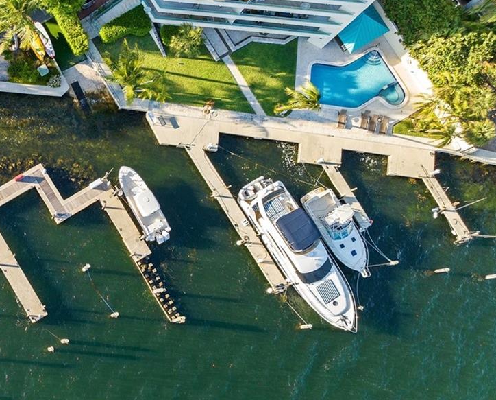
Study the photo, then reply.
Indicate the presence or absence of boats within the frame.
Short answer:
Yes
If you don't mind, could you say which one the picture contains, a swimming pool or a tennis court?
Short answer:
swimming pool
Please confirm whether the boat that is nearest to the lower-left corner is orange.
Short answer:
No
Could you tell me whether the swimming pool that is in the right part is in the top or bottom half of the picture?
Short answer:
top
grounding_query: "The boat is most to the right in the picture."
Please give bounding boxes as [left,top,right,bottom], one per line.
[298,187,374,284]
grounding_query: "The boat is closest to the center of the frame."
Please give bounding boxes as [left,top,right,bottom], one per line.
[232,172,271,201]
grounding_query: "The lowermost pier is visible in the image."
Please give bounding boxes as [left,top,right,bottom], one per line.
[130,257,184,325]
